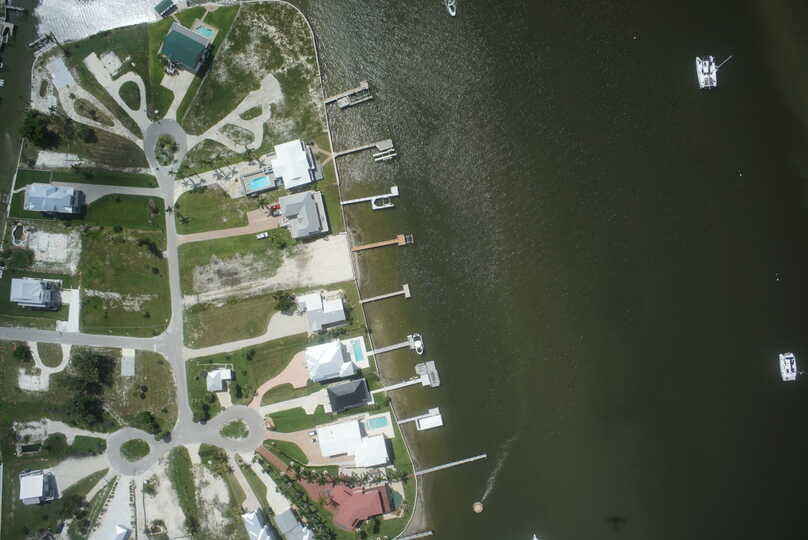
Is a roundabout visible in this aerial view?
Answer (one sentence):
Yes, there is a roundabout in the image.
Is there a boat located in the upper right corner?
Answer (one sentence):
Yes, a boat shows up in the upper right corner.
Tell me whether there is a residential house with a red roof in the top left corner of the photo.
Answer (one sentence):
No, no residential house with a red roof appears in the top left corner of the photo.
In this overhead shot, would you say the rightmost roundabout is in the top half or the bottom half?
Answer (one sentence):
It is in the bottom half that the rightmost roundabout appears.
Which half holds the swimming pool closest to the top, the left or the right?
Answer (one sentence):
The swimming pool closest to the top appears in the left half of the scene.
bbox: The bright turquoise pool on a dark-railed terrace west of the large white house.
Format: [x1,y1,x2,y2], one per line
[241,167,276,194]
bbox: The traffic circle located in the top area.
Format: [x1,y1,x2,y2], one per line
[144,118,188,166]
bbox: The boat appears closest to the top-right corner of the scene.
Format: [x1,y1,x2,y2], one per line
[698,55,728,89]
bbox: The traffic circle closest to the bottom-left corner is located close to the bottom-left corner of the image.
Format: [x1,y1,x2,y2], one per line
[107,428,156,475]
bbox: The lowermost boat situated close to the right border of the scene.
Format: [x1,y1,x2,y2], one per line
[780,353,808,383]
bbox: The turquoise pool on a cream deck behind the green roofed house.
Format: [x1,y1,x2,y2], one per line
[192,19,218,43]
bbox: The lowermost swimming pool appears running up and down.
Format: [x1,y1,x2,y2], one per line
[387,480,403,510]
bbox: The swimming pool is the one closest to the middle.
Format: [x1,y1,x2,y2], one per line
[345,336,369,367]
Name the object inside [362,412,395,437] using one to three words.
swimming pool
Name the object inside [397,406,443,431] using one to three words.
pier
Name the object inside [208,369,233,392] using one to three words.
house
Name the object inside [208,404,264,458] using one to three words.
roundabout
